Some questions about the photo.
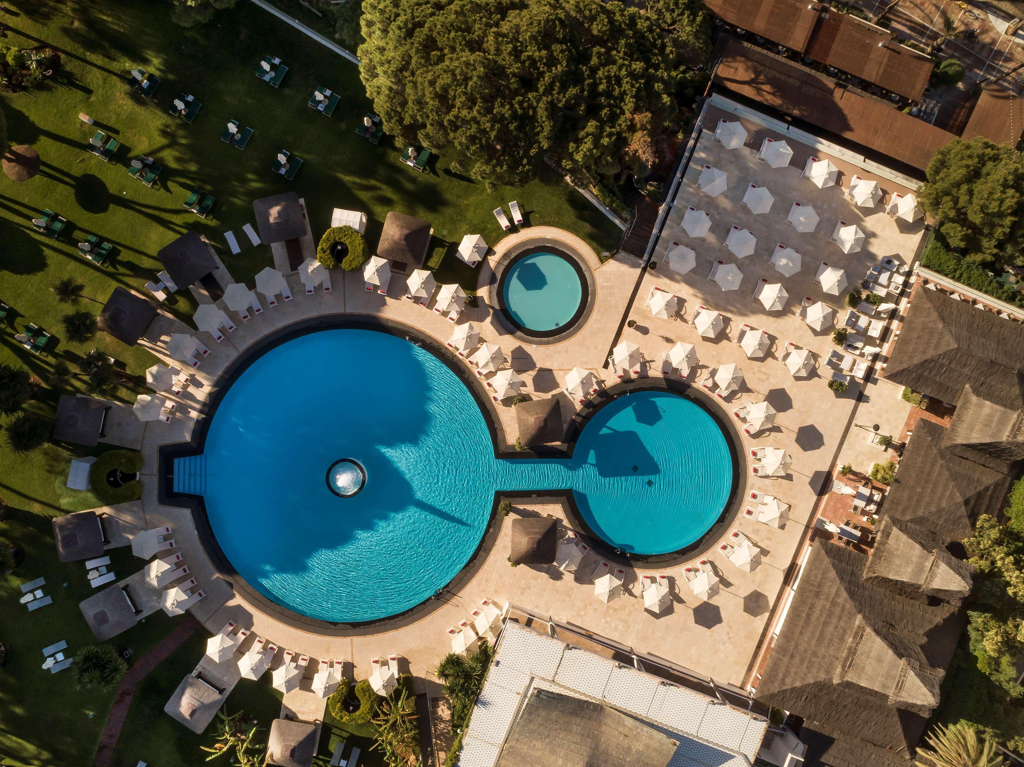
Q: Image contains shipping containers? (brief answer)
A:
No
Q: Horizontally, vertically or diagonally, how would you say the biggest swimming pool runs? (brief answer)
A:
horizontally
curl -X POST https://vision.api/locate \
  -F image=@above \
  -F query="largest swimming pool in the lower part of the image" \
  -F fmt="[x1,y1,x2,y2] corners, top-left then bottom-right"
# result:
[173,329,734,623]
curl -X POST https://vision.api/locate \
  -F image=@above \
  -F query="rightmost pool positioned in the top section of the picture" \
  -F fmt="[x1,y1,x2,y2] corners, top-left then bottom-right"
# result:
[503,252,582,331]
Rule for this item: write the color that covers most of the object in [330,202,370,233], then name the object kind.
white tent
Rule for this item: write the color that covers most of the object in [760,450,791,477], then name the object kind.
white umbrella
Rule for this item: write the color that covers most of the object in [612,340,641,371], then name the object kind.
white umbrella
